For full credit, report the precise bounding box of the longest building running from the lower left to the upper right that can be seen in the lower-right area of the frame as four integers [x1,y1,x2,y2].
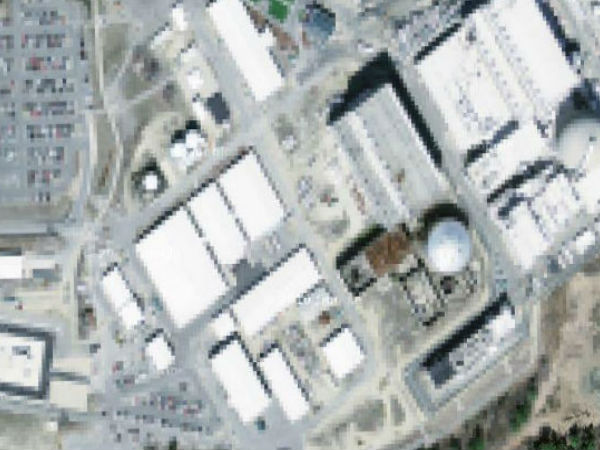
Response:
[424,306,517,390]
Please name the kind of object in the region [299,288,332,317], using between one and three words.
shed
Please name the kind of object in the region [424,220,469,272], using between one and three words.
building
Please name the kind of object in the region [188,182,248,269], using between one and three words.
building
